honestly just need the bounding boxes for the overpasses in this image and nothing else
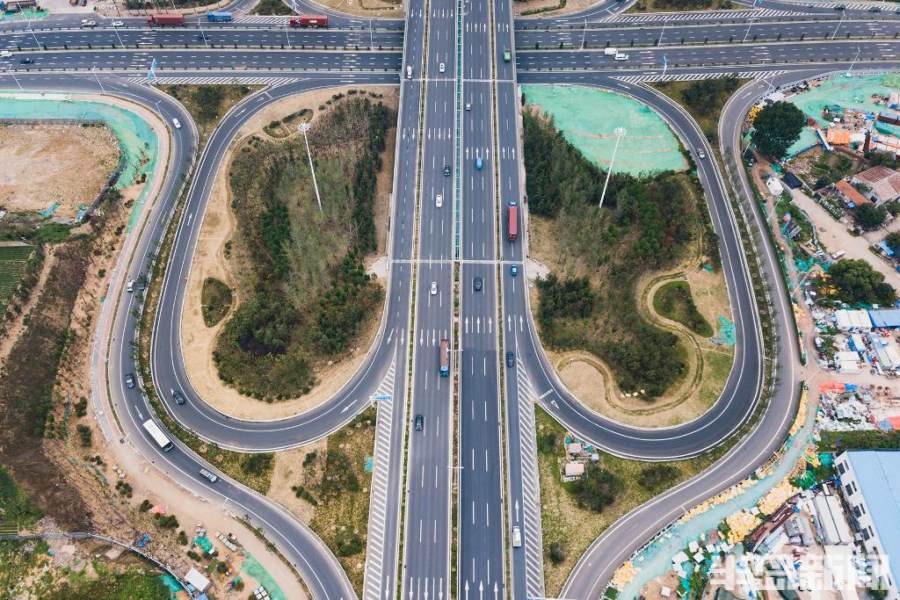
[364,0,549,287]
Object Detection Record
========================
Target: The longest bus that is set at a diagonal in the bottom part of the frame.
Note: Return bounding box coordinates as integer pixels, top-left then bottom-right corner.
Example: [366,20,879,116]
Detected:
[143,416,171,452]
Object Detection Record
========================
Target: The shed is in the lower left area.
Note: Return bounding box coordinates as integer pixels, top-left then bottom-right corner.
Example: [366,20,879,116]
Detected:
[185,567,212,592]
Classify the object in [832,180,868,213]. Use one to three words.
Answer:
house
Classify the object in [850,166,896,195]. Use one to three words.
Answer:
house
